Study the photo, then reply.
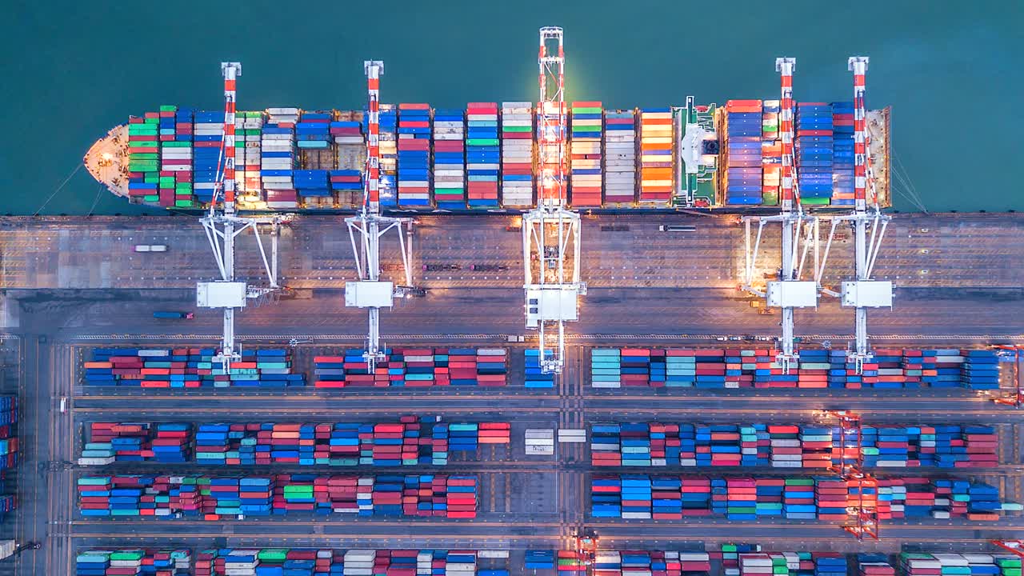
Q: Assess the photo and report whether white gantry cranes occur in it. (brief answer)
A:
Yes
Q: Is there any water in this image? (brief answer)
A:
Yes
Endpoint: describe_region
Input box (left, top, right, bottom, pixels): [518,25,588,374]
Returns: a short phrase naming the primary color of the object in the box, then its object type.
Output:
white container crane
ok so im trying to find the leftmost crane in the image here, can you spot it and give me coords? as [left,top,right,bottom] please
[197,64,293,373]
